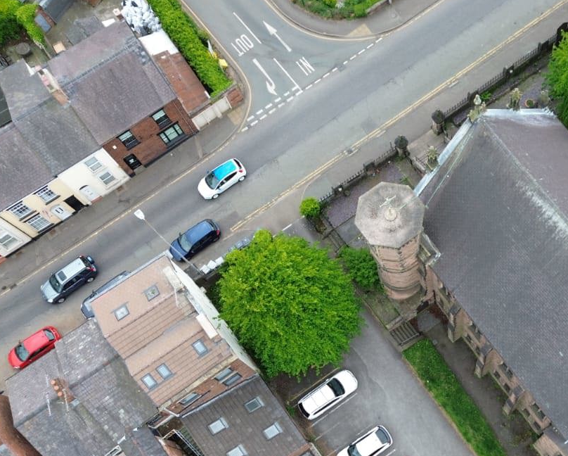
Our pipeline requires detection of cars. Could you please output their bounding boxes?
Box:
[292,368,361,419]
[80,271,133,320]
[37,252,101,303]
[196,157,249,200]
[5,322,65,370]
[167,215,224,262]
[334,423,398,456]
